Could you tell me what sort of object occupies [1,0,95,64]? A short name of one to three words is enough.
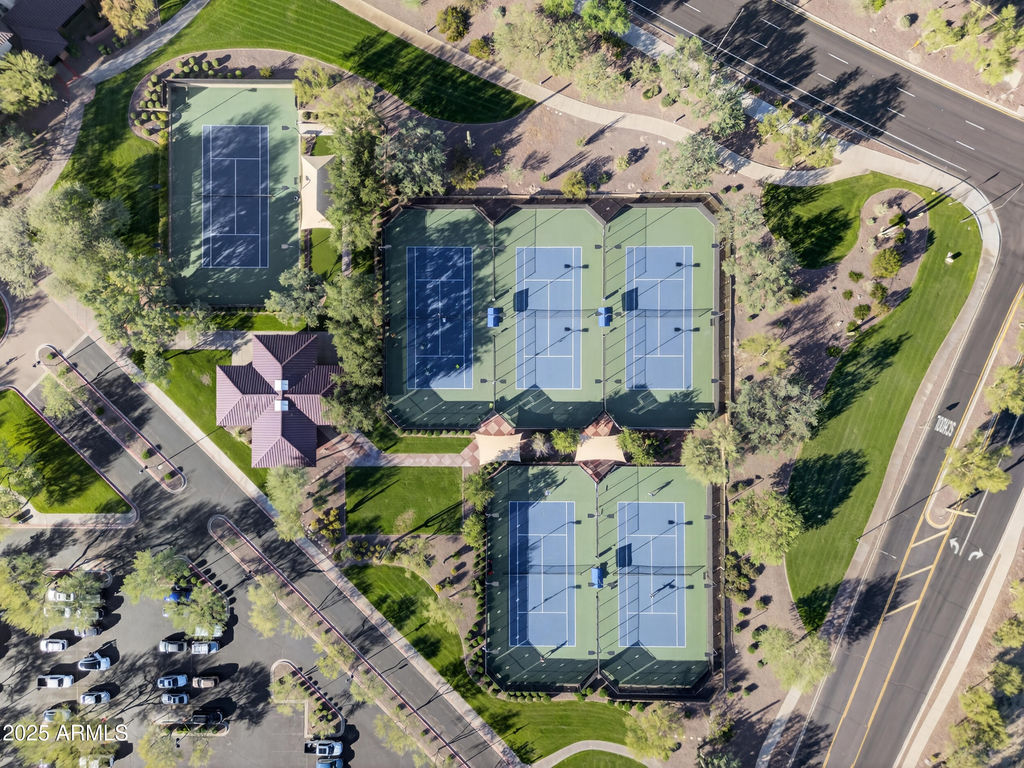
house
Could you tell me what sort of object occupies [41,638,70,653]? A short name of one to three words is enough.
car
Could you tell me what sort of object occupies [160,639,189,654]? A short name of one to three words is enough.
car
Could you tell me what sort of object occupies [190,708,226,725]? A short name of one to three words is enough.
vehicle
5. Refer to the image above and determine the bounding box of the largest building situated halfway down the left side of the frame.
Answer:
[216,334,343,468]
